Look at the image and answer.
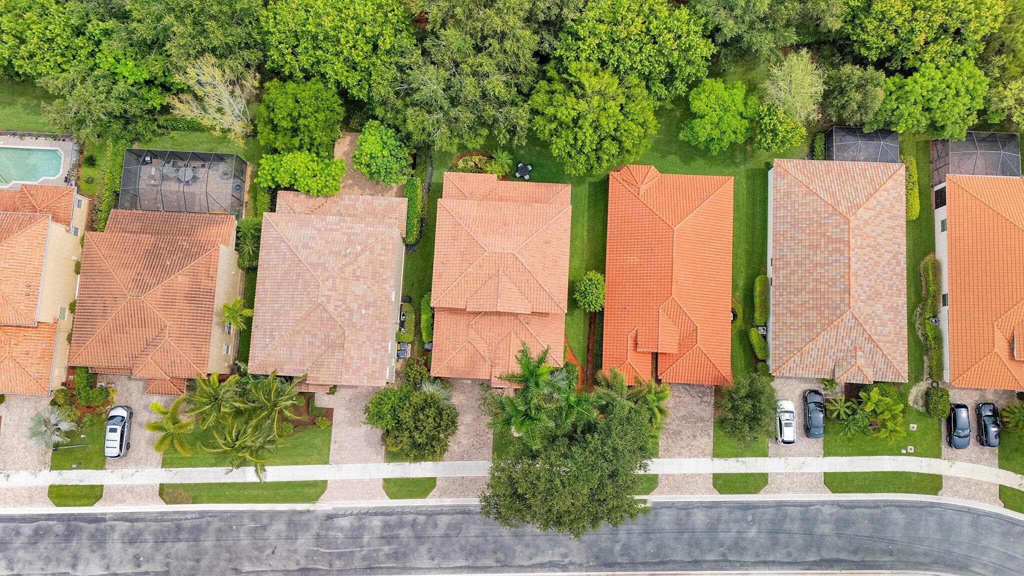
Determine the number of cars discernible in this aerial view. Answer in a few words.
5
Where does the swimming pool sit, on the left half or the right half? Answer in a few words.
left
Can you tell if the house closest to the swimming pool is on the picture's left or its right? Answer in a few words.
left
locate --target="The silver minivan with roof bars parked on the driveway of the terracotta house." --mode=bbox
[102,407,132,460]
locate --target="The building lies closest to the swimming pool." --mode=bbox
[0,183,93,396]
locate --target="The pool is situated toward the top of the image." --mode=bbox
[0,145,64,187]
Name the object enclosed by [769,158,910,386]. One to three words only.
house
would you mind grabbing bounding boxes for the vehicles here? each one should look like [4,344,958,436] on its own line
[974,403,1003,449]
[774,401,799,447]
[803,391,826,440]
[945,404,974,450]
[102,407,132,460]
